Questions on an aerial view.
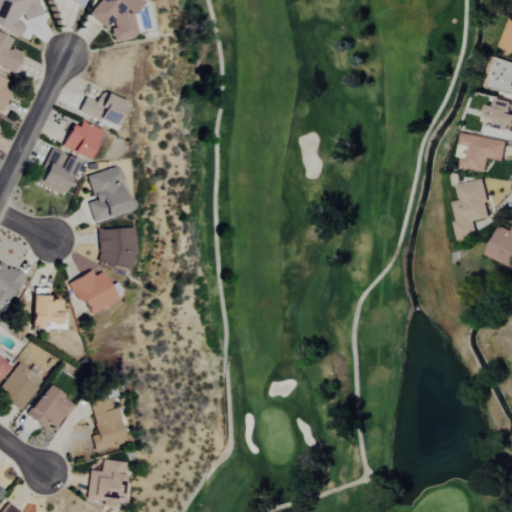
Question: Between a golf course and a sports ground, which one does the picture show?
golf course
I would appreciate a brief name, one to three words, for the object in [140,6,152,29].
swimming pool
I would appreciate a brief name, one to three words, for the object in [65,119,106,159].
house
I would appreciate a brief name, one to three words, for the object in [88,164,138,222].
house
